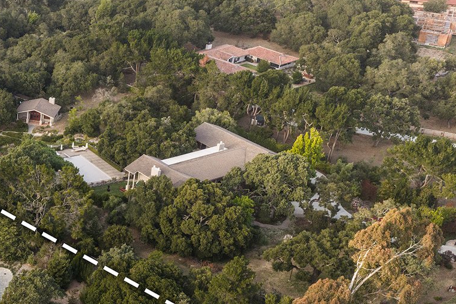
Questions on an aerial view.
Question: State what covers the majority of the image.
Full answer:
The bulk of the photo consists of trees.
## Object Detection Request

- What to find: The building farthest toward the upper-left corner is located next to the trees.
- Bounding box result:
[19,95,59,128]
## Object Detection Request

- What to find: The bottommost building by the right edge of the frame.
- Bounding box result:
[399,19,456,47]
